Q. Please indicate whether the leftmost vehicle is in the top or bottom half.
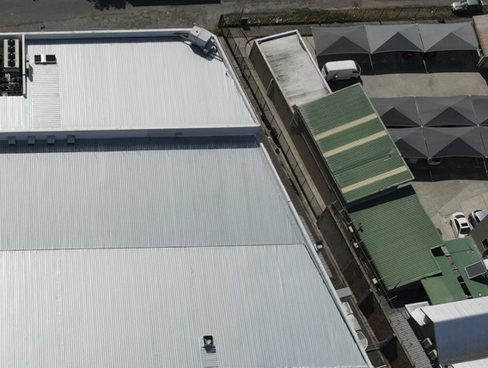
top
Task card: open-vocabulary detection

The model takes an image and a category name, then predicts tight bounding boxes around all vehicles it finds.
[424,46,442,61]
[424,142,442,168]
[320,61,357,82]
[449,1,483,16]
[444,211,471,239]
[401,52,415,61]
[463,207,486,228]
